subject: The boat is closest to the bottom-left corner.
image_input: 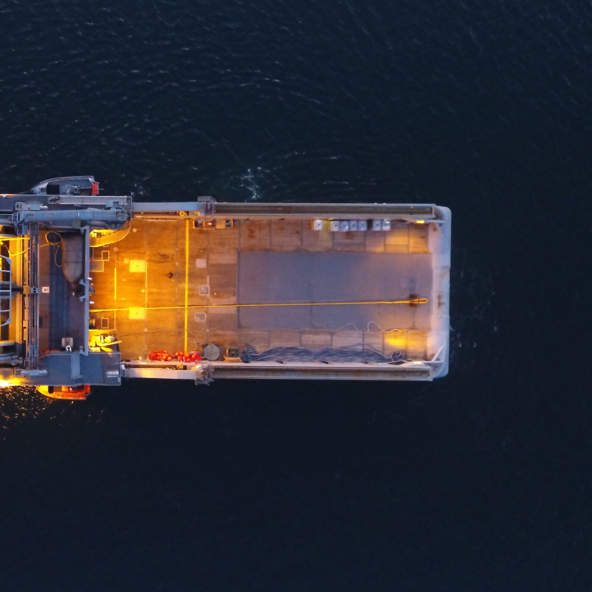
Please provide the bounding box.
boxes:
[35,384,91,400]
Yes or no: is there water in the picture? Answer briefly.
Yes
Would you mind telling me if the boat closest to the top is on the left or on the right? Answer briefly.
left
